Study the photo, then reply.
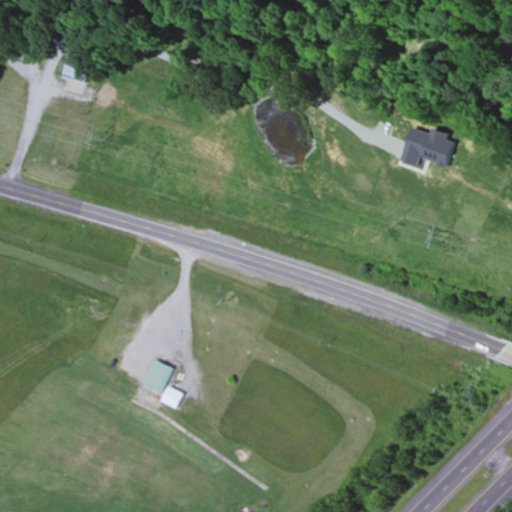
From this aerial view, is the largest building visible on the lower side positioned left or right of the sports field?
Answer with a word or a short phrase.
on its left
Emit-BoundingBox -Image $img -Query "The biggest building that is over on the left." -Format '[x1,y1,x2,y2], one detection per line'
[146,360,175,392]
